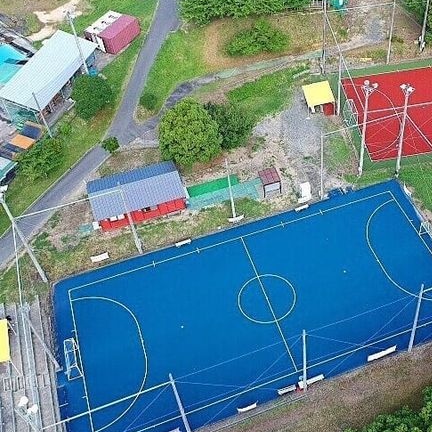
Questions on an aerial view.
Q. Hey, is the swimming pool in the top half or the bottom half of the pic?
top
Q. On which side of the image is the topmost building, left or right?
left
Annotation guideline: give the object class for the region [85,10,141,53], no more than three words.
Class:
building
